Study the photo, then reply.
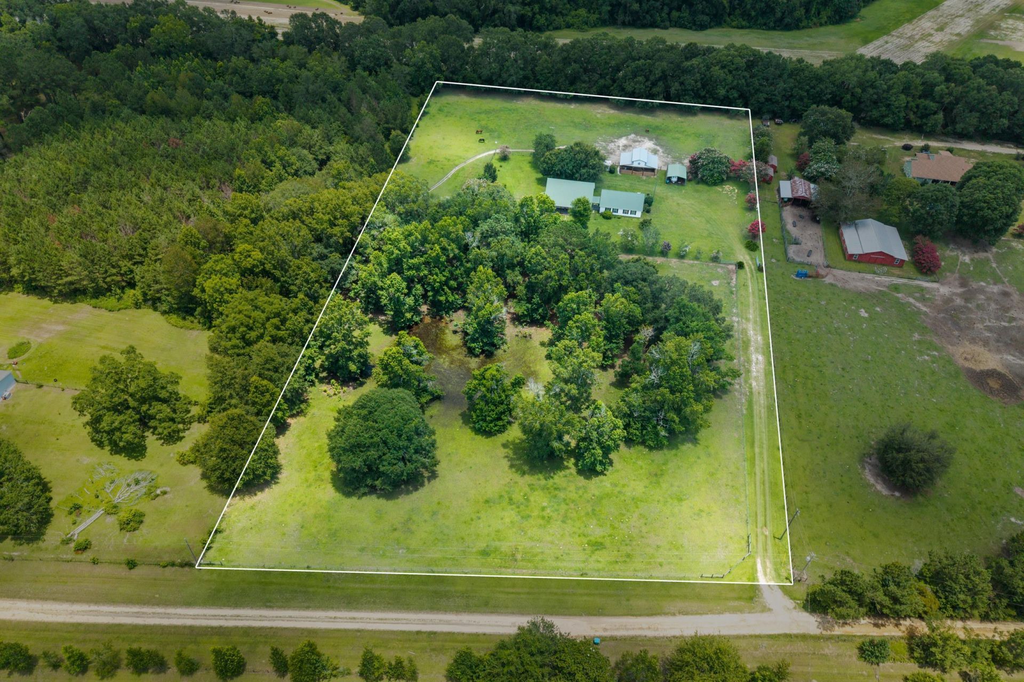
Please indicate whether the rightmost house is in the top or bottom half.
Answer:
top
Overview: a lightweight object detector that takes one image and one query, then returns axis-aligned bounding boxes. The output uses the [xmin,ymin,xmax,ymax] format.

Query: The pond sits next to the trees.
[416,318,484,371]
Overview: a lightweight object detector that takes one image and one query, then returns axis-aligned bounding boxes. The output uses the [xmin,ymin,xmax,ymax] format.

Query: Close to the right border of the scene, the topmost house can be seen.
[903,142,974,189]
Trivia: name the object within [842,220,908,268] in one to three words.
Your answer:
barn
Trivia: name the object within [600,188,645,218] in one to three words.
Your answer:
house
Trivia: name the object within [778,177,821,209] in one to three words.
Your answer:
barn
